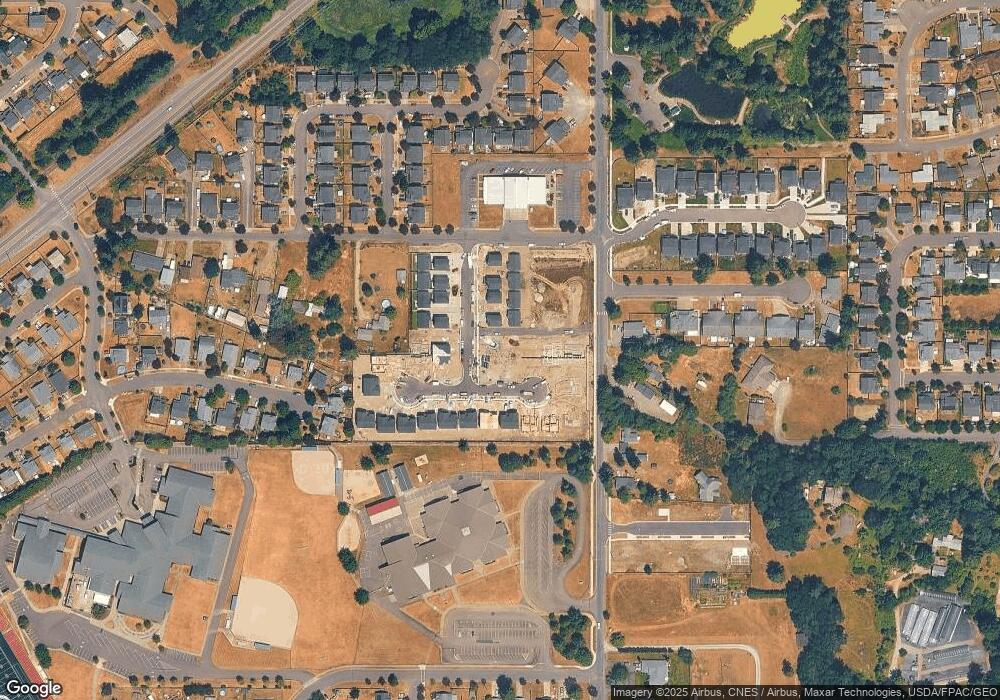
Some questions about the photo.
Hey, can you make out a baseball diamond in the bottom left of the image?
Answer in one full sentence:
Yes, you'll find a baseball diamond in the bottom left of the image.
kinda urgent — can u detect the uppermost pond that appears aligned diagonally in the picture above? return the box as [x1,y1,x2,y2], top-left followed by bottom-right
[728,0,801,48]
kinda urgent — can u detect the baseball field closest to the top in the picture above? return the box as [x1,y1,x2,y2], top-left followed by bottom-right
[292,445,343,496]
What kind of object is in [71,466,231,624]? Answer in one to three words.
building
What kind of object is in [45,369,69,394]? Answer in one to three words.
house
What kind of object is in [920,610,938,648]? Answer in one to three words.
shed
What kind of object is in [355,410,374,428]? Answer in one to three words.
house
